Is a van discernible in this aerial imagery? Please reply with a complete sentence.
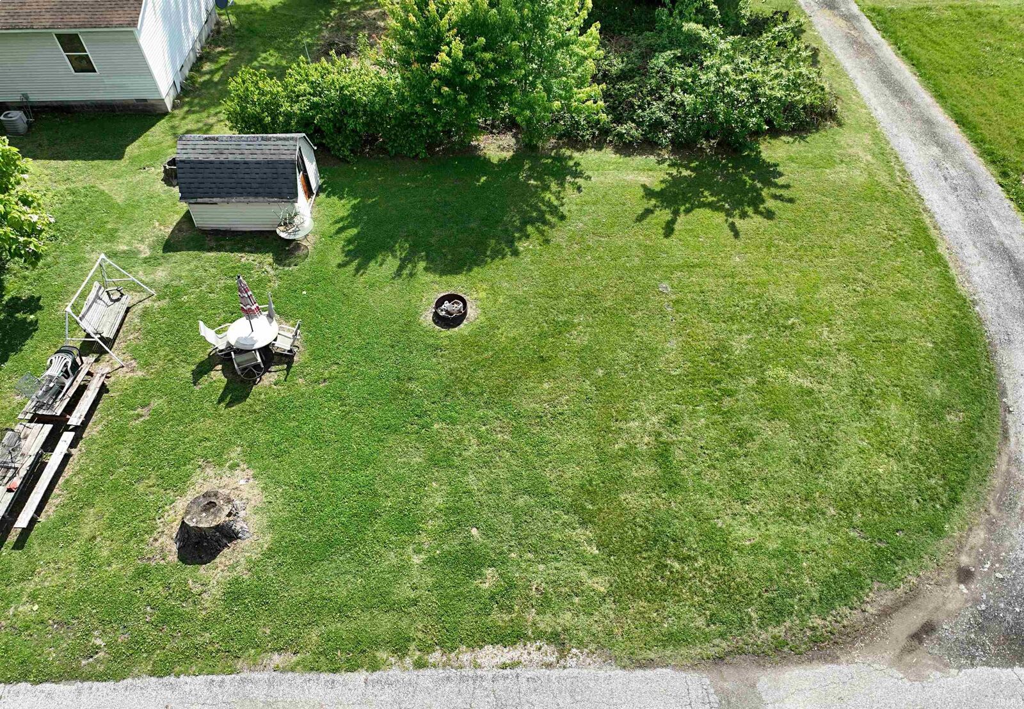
No, the photo shows no van.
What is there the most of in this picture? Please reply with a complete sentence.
Most of the picture is covered by grass.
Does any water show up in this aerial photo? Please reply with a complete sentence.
No, the picture contains no water.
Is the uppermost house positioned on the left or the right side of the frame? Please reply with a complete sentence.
The uppermost house appears in the left half of the scene.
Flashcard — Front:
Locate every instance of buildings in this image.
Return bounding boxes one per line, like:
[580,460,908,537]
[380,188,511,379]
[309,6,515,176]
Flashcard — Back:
[0,0,218,120]
[175,136,319,229]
